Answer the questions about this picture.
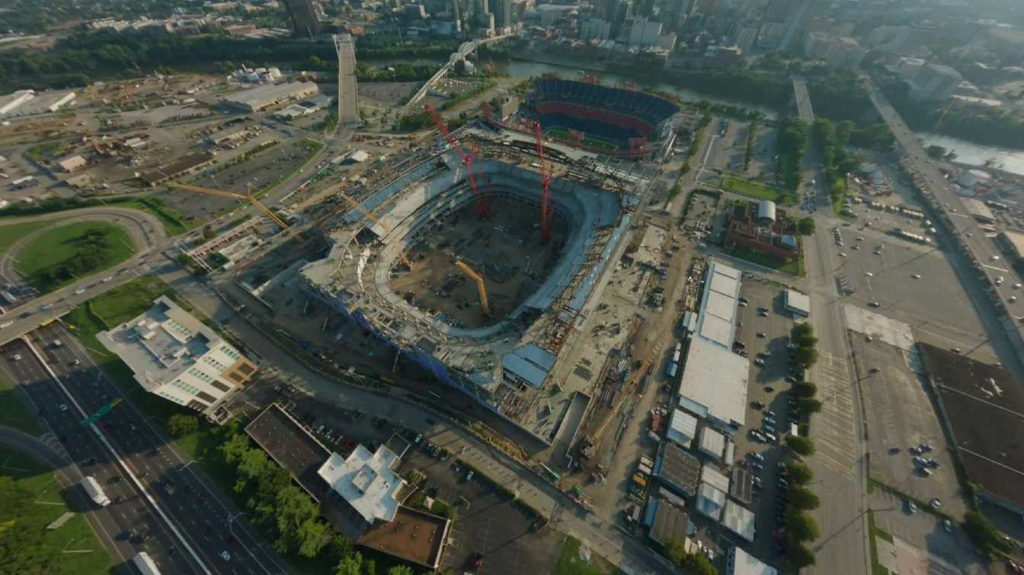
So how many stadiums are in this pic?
2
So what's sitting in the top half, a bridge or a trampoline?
bridge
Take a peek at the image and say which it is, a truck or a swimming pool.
truck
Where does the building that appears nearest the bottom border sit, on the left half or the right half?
right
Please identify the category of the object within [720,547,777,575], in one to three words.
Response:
building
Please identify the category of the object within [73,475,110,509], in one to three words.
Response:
truck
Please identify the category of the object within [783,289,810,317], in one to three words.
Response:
building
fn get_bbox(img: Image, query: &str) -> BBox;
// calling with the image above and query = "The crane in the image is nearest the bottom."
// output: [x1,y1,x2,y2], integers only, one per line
[579,362,651,458]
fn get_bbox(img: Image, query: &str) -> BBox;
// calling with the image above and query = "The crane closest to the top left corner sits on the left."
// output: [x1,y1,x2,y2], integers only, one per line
[169,180,294,236]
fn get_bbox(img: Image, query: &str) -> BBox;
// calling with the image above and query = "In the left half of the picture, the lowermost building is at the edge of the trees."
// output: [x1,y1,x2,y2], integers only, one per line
[355,506,453,569]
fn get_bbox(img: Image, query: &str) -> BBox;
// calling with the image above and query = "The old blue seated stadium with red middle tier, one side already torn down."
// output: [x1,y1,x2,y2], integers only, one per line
[482,74,681,164]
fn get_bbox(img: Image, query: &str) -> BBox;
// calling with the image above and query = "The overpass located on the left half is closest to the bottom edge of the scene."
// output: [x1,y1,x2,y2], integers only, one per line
[0,280,94,346]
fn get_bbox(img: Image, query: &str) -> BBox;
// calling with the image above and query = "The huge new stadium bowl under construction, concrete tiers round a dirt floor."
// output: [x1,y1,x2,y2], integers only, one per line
[297,150,636,447]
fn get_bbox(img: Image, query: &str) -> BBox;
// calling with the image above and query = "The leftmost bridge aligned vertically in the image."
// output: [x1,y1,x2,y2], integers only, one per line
[325,24,359,120]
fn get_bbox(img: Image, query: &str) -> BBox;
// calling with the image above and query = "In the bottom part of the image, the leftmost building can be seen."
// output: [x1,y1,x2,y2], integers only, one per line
[96,293,260,424]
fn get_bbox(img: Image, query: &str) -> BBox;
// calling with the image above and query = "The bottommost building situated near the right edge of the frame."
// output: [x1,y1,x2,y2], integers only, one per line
[905,342,1024,521]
